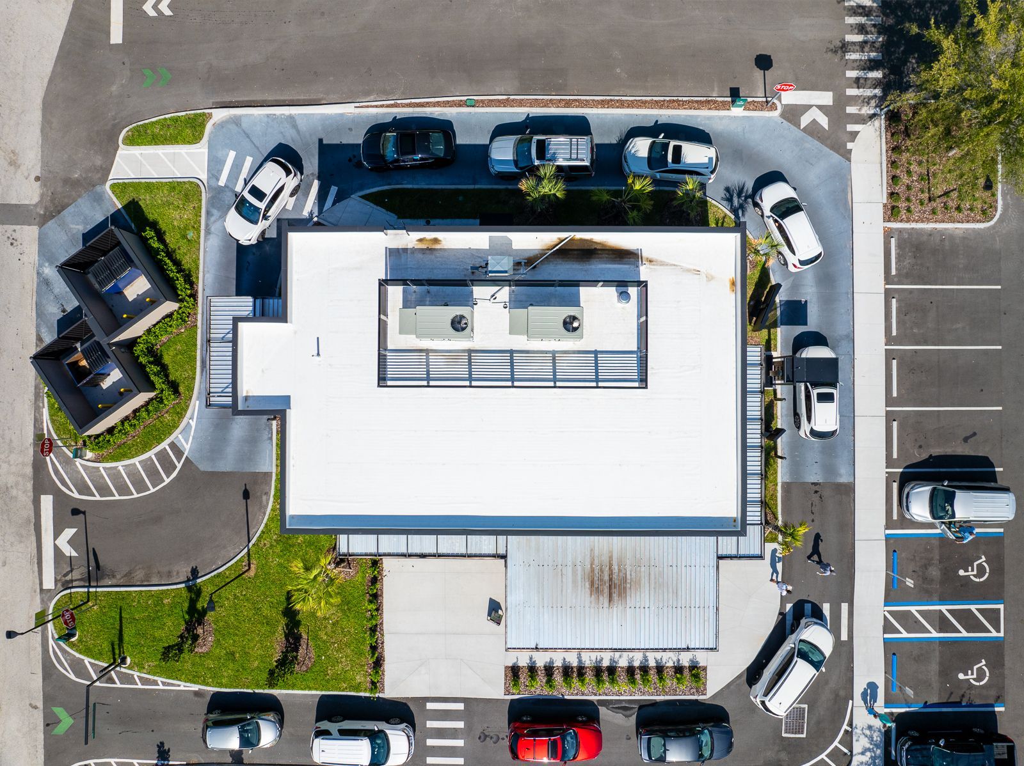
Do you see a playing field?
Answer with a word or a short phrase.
No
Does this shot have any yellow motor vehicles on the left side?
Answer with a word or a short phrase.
No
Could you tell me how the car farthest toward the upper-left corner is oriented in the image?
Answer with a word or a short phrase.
at an angle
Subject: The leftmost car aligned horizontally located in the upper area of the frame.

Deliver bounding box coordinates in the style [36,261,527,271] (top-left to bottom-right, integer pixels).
[361,125,456,172]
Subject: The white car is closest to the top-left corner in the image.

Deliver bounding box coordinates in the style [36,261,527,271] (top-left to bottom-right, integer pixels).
[230,156,303,243]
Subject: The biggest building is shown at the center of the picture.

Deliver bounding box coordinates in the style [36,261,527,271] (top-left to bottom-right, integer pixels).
[207,220,766,652]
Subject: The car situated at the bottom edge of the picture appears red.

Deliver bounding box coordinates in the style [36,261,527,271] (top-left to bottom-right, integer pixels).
[510,716,602,766]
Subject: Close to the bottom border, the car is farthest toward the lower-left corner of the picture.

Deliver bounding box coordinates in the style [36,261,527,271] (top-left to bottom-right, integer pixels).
[202,708,285,757]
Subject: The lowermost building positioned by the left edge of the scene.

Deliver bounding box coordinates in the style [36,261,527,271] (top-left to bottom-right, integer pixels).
[27,317,156,431]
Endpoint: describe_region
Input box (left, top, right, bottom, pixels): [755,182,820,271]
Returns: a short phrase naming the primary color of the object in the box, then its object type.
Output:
white car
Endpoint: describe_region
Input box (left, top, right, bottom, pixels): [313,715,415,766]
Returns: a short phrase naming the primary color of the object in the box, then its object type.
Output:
white car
